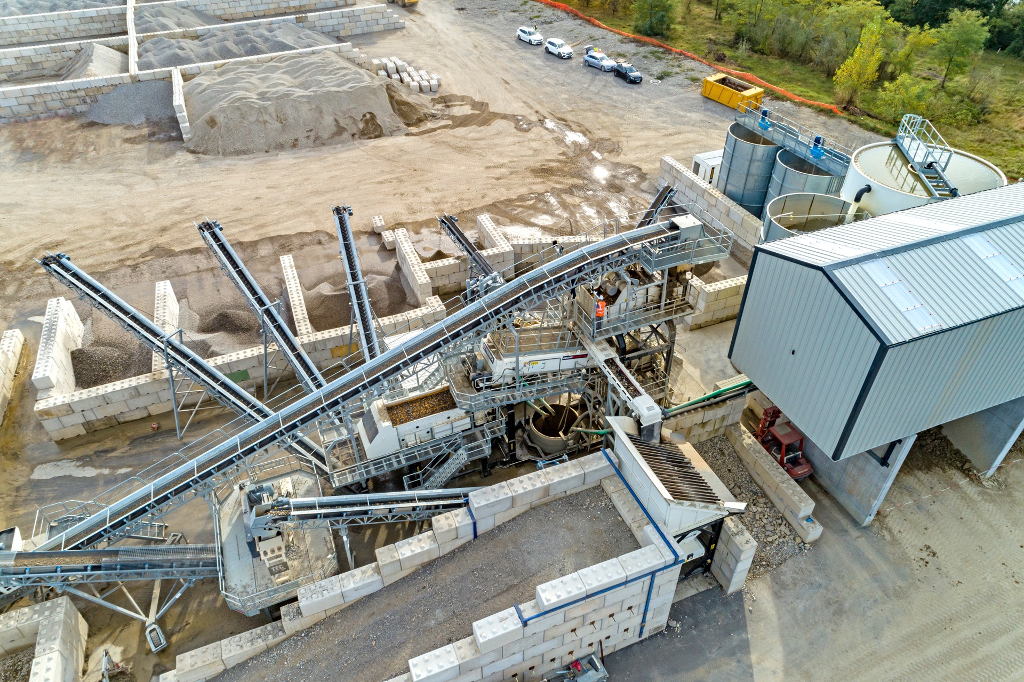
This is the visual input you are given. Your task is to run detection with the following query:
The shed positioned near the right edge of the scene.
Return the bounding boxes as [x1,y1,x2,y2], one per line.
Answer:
[727,183,1024,527]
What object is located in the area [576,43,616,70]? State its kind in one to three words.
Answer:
car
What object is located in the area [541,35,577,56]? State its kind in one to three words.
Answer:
car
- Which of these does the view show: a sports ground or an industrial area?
industrial area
